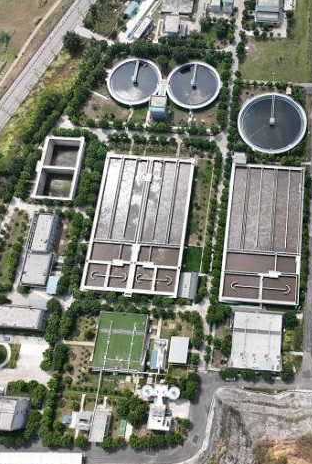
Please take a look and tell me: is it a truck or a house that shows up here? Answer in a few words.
house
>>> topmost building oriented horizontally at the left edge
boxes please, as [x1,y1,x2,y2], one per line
[0,305,48,330]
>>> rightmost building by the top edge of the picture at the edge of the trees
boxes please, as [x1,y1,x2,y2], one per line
[257,0,281,26]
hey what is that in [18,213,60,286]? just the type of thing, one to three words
building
